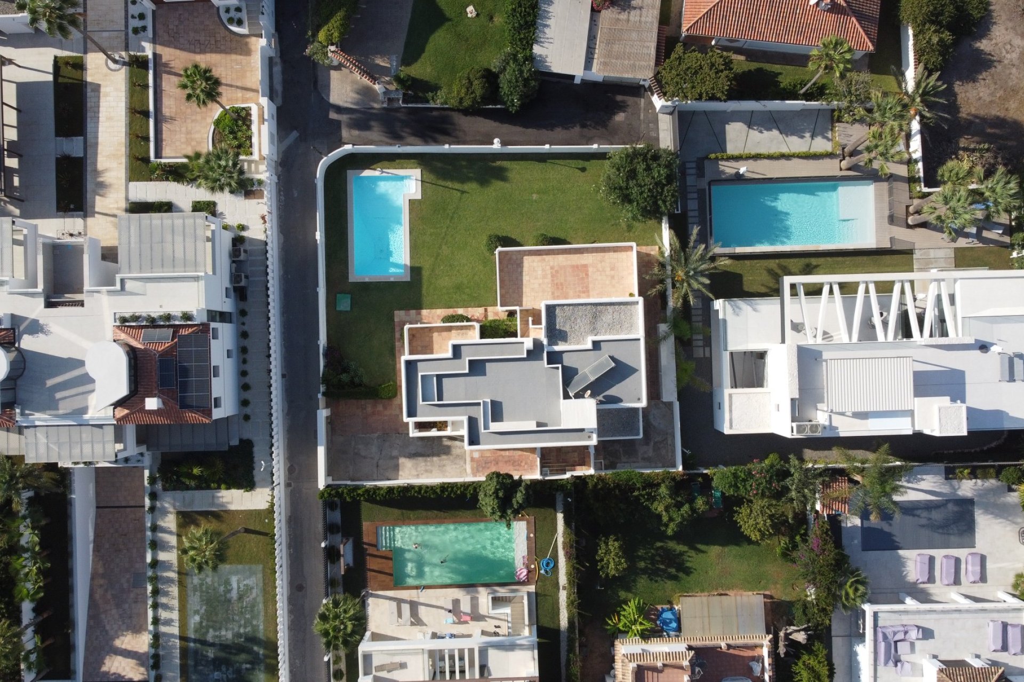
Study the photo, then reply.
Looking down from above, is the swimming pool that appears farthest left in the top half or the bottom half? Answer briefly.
top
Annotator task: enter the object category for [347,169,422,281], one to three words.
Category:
swimming pool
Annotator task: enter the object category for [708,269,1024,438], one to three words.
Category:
house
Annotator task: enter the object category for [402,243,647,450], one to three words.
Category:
house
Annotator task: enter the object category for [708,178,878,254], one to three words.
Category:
swimming pool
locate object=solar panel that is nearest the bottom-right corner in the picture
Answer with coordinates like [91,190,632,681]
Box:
[566,355,615,399]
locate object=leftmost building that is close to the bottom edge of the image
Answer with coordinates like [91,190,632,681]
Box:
[358,590,540,682]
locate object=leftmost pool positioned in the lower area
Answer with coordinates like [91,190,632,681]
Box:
[375,520,530,588]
